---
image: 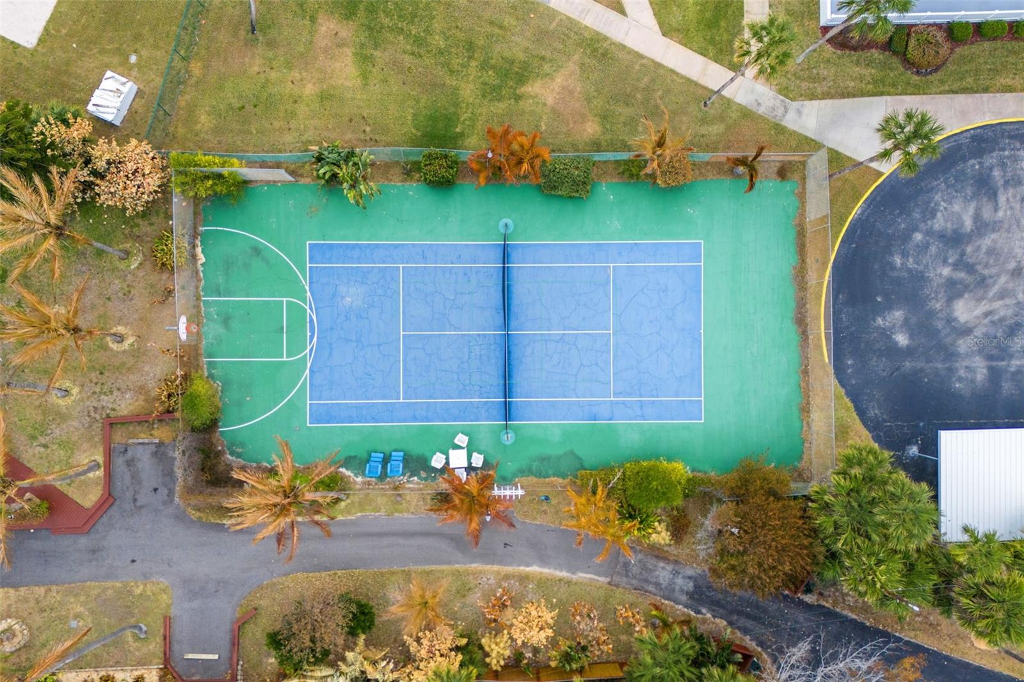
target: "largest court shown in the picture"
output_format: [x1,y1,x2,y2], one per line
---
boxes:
[307,179,806,484]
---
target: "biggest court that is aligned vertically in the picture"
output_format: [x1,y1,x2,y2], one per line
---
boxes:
[200,183,316,465]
